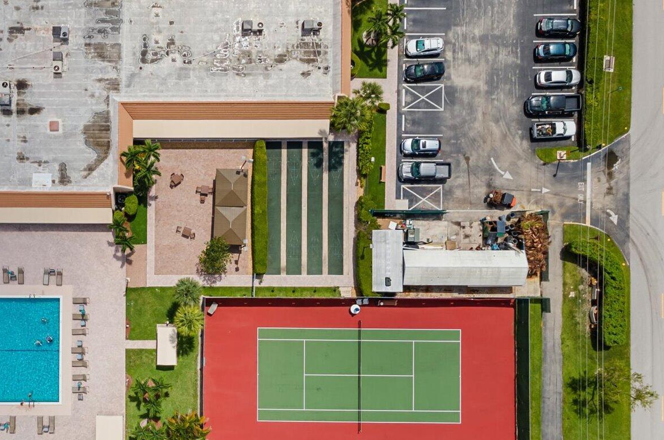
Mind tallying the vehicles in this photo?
9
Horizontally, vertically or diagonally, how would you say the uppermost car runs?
horizontally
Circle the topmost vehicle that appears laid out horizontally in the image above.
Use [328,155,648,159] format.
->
[534,17,578,39]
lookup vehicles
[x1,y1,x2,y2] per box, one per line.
[528,119,577,140]
[534,17,578,39]
[396,160,452,181]
[398,136,441,157]
[523,94,583,116]
[534,68,578,89]
[402,37,444,59]
[401,61,445,82]
[532,41,575,63]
